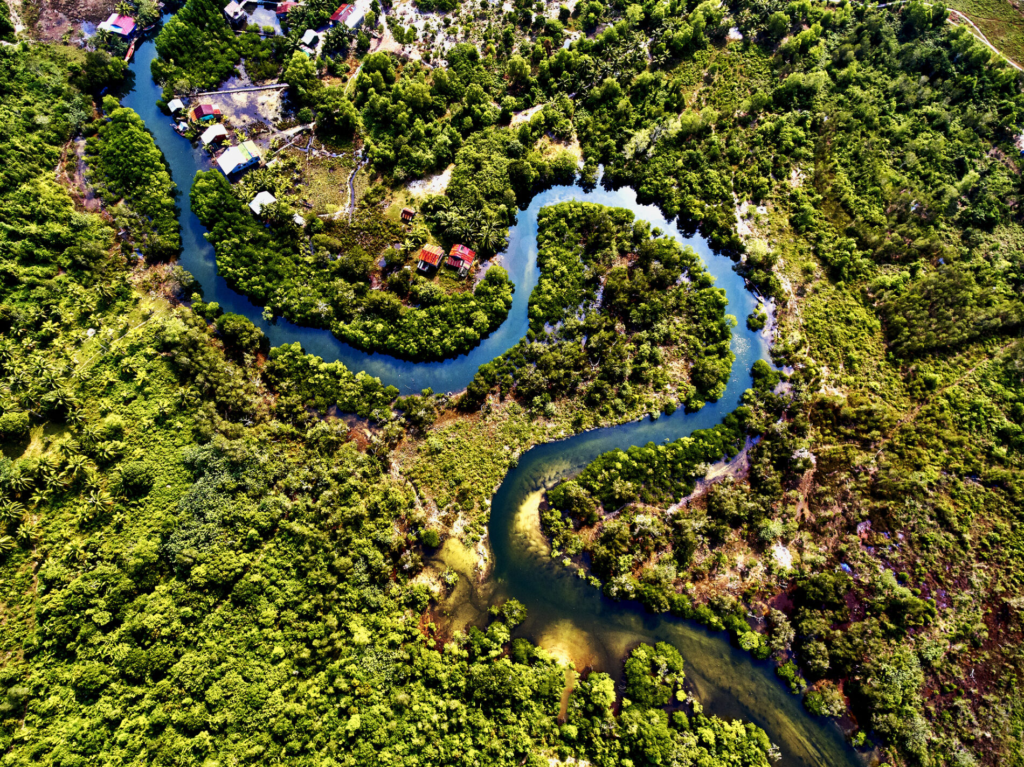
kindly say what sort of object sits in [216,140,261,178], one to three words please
house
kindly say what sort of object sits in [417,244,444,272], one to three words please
house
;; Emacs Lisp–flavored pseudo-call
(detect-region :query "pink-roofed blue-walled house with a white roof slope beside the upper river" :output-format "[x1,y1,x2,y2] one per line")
[97,13,138,40]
